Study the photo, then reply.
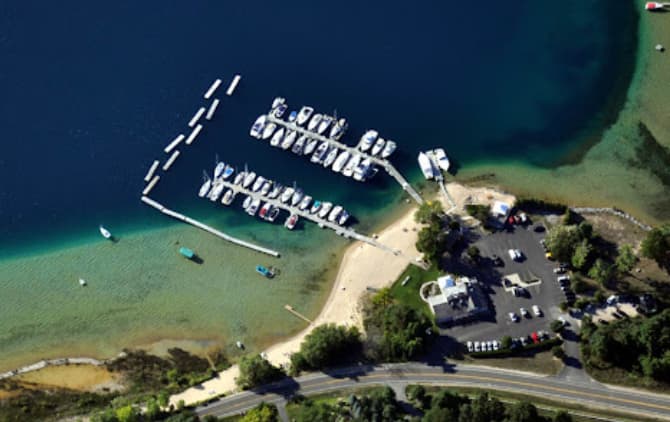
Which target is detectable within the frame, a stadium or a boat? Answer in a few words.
boat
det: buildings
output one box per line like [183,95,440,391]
[421,275,491,325]
[491,202,509,219]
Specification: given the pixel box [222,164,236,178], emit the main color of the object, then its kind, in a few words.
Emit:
blue boat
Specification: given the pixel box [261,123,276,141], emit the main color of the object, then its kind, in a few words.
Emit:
white boat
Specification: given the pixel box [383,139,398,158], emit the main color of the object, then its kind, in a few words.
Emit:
white boat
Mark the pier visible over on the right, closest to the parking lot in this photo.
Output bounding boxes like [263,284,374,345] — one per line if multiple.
[426,149,454,214]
